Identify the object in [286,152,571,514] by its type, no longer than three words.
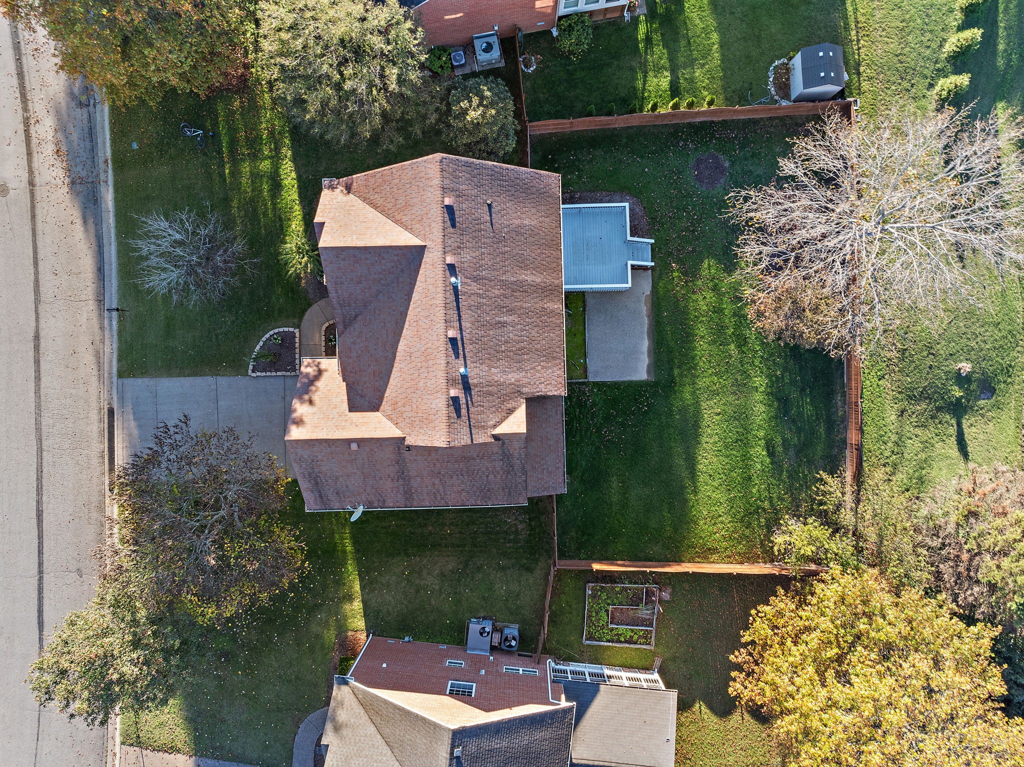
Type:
house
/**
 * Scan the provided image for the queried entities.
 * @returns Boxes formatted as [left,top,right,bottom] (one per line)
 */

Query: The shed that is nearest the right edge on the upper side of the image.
[791,42,848,100]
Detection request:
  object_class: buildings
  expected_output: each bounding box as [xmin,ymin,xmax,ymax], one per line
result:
[319,630,677,767]
[286,152,571,514]
[791,42,848,100]
[403,0,634,51]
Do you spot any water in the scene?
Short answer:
No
